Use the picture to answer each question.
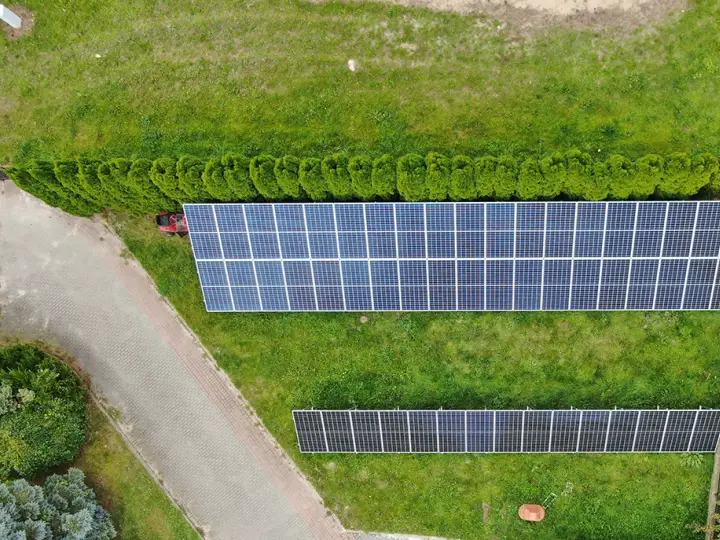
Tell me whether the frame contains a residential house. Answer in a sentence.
No, the photo shows no residential house.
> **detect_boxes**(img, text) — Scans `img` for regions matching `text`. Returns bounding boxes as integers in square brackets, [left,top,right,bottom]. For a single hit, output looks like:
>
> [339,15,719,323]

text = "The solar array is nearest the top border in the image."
[184,200,720,311]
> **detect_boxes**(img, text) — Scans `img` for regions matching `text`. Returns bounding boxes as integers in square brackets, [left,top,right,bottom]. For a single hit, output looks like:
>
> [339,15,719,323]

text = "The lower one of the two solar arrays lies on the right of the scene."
[292,406,720,453]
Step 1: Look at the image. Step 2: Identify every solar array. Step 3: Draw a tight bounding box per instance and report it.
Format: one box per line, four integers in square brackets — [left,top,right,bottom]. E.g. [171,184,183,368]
[184,200,720,311]
[292,406,720,453]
